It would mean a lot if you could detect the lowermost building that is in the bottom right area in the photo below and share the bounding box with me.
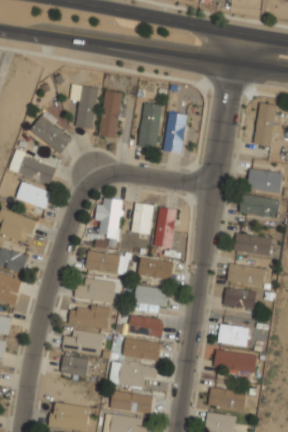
[206,413,236,432]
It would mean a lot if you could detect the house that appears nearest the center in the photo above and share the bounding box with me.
[131,203,154,240]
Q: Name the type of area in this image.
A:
residential area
